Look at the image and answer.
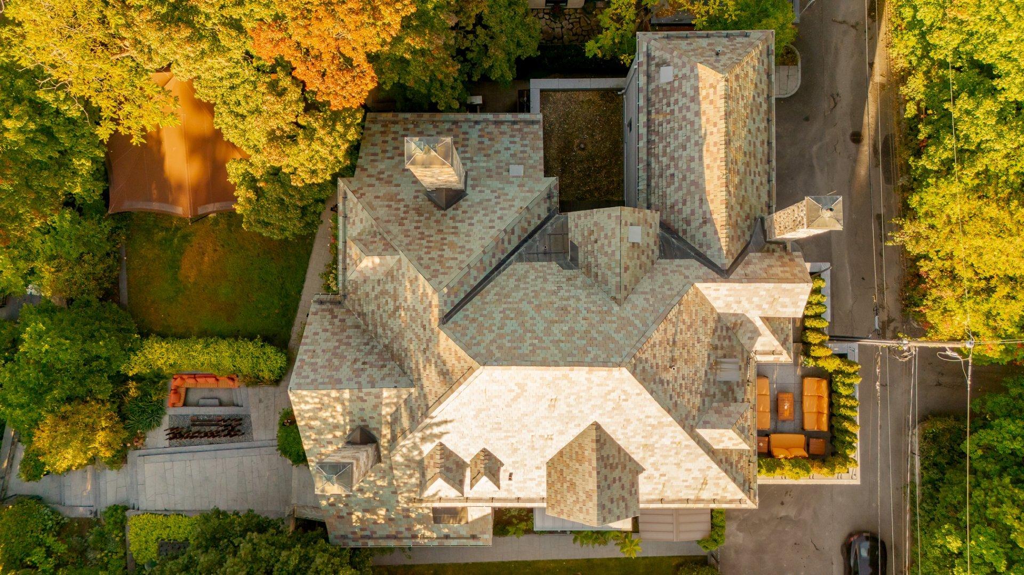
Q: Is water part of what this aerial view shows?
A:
No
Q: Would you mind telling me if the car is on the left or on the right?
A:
right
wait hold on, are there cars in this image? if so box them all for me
[837,529,887,575]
